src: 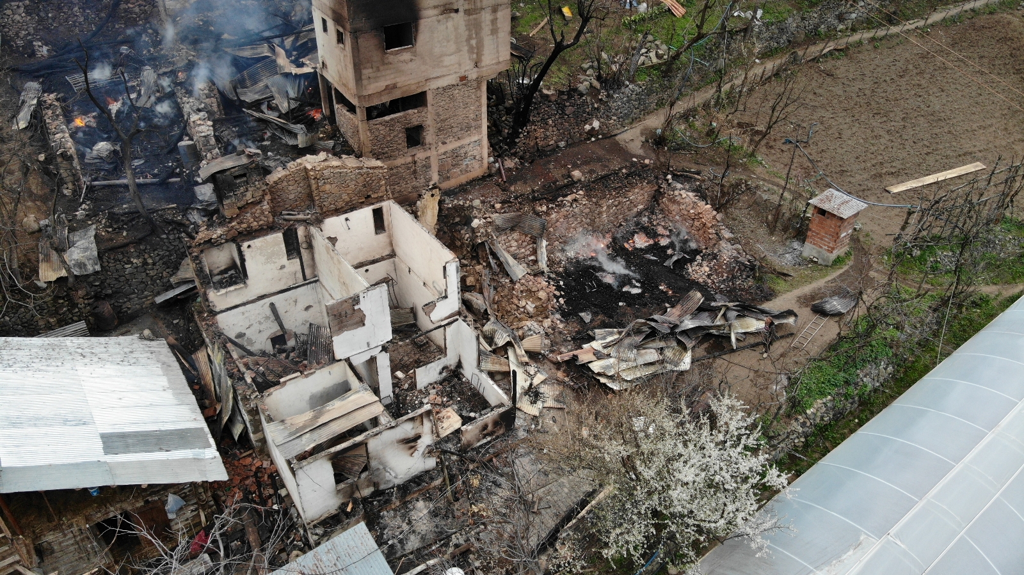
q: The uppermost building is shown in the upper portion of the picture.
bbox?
[310,0,511,190]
